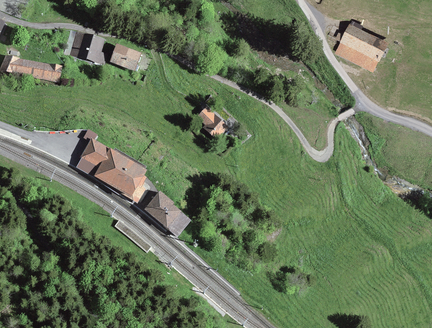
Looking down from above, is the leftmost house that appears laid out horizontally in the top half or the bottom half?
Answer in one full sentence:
You can find the leftmost house that appears laid out horizontally in the top half.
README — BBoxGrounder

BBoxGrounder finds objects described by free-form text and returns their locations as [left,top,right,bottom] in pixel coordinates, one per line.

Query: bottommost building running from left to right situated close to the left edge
[0,53,64,82]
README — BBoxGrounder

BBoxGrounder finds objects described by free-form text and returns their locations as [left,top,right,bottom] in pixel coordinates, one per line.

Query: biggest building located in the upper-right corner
[334,19,388,73]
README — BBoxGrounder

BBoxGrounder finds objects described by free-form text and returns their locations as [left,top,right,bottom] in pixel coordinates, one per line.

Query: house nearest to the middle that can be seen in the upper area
[198,104,229,136]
